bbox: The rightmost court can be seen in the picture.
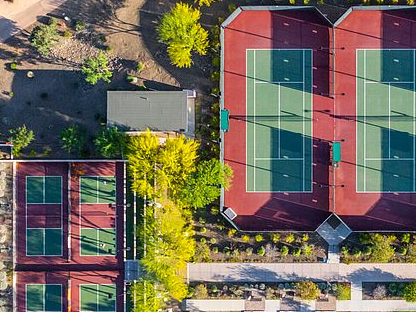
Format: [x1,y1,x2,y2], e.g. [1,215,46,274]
[334,11,416,231]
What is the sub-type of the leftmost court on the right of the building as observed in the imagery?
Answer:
tennis court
